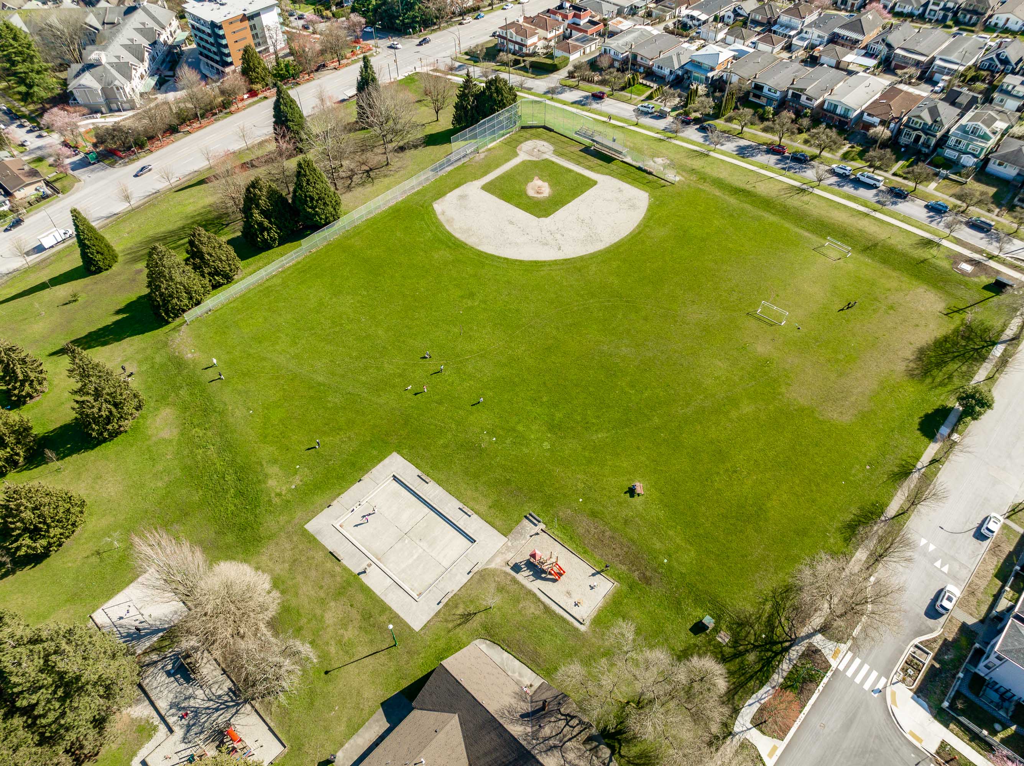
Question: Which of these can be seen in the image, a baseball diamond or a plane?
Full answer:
This aerial view contains a baseball diamond.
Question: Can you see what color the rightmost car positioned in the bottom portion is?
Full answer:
The color of the rightmost car positioned in the bottom portion is white.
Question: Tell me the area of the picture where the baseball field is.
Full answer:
The baseball field sits in the top section of the image.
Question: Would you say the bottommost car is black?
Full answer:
No, the bottommost car is white.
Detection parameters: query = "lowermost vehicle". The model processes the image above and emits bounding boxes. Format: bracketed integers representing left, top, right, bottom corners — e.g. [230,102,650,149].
[930,589,964,615]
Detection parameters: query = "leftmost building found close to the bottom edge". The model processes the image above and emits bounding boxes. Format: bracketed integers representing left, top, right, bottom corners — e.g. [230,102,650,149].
[359,641,621,766]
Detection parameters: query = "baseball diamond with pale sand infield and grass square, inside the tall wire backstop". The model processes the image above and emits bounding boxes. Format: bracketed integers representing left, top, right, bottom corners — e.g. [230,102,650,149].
[432,141,649,262]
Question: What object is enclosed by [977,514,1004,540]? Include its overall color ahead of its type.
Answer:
white car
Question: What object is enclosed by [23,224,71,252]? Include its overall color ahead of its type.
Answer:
white truck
